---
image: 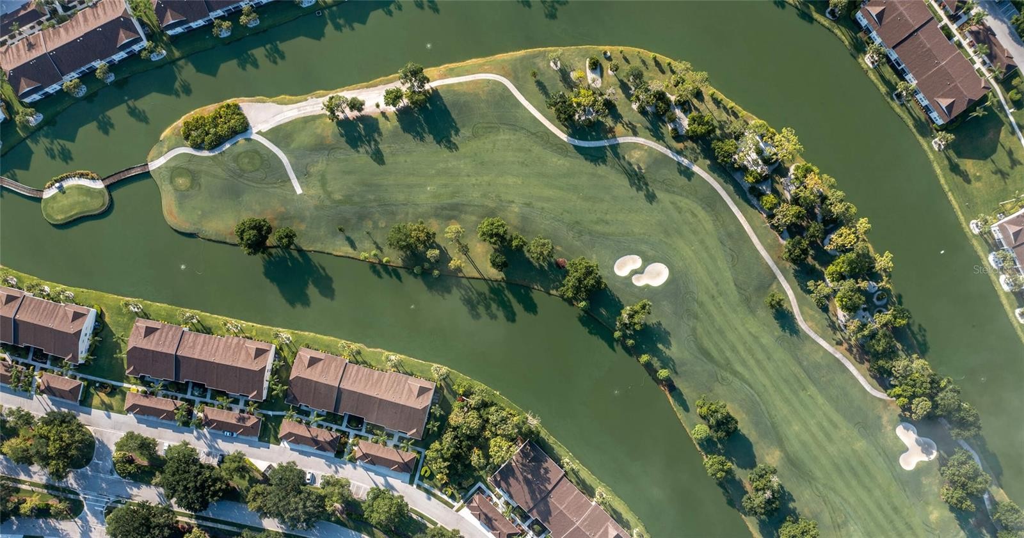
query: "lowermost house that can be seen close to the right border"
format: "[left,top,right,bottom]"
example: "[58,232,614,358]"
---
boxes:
[988,204,1024,280]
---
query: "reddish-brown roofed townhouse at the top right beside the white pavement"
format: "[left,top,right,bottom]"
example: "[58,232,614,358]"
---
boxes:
[843,0,991,126]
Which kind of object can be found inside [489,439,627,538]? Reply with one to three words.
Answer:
house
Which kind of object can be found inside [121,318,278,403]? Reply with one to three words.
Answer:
house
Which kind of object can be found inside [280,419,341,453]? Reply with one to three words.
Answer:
building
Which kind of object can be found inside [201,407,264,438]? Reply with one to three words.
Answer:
building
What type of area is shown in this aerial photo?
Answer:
golf course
